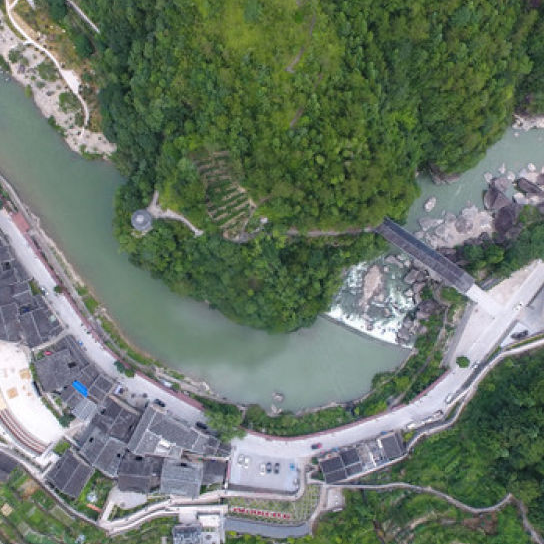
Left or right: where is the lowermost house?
left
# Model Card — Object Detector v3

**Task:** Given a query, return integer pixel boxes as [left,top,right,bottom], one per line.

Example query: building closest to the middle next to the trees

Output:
[130,210,154,233]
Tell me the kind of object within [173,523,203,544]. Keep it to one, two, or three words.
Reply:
house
